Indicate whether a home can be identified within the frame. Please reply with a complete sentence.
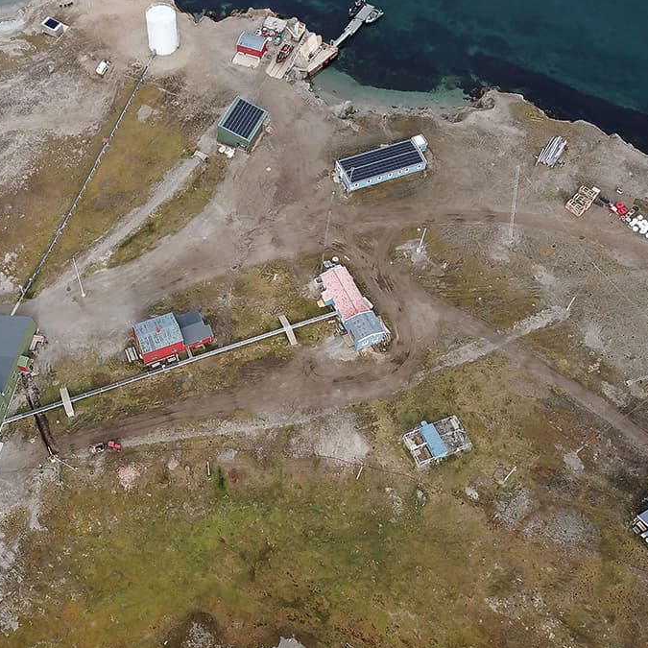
Yes, the picture does show a home.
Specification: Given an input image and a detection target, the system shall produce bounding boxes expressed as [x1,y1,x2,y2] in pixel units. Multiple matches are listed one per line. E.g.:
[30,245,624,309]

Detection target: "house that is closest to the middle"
[315,262,386,351]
